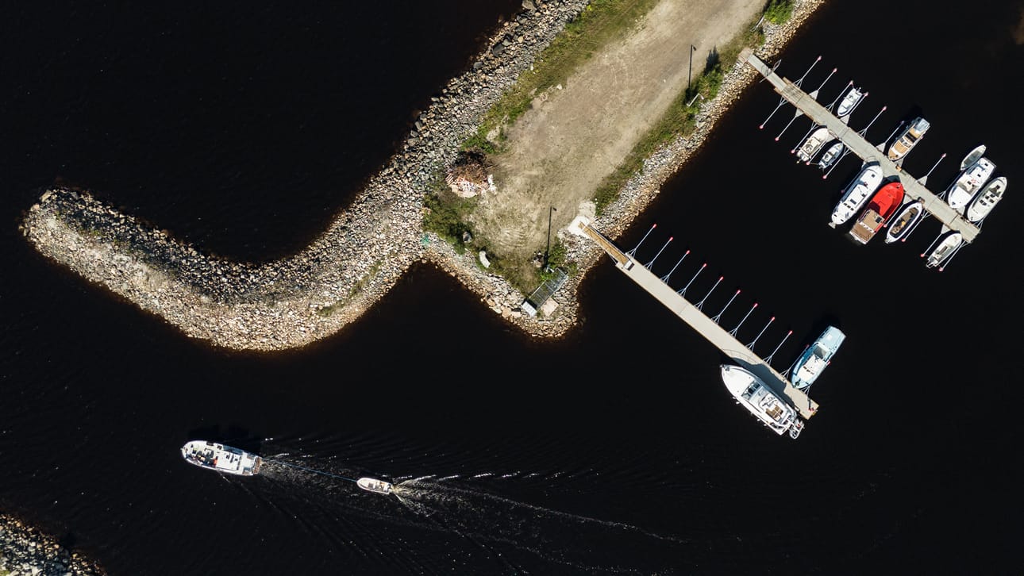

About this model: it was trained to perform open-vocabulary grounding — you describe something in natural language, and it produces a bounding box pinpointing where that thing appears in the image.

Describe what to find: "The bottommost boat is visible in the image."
[357,478,394,495]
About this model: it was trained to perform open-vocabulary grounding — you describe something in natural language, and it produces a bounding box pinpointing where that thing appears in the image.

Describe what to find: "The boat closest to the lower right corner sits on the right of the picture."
[791,418,805,438]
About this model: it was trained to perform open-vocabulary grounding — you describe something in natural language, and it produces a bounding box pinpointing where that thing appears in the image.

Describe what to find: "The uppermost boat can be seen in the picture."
[837,86,864,116]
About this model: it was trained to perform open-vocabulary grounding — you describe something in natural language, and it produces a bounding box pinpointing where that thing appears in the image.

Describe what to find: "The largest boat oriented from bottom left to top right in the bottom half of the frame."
[791,326,846,394]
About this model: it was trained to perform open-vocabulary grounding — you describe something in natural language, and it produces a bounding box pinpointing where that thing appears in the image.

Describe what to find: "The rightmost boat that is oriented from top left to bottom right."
[719,358,800,438]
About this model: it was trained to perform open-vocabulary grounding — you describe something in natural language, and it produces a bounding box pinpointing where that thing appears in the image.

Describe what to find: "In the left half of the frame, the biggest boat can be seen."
[179,441,265,476]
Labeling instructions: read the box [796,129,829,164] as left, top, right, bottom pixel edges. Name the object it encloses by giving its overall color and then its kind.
white boat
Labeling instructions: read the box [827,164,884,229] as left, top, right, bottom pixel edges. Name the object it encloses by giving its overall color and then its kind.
white boat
